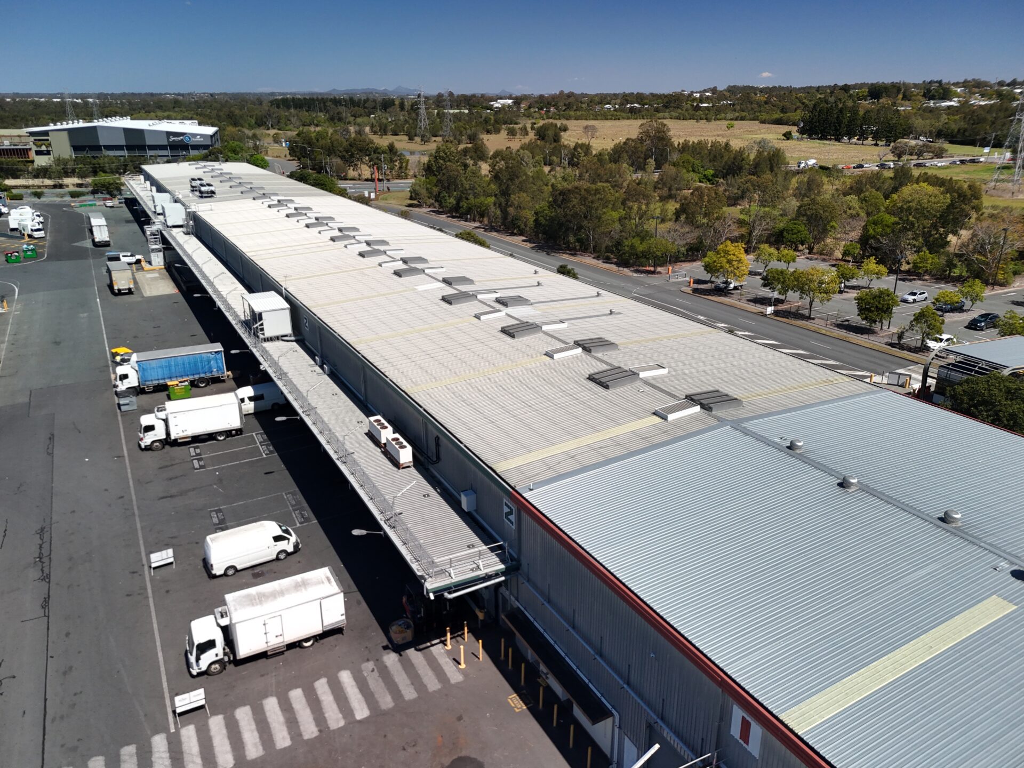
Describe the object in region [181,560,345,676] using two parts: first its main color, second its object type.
white truck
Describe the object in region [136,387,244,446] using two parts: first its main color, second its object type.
white truck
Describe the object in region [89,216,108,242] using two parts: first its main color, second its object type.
white vehicle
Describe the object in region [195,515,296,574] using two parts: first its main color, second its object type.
white van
